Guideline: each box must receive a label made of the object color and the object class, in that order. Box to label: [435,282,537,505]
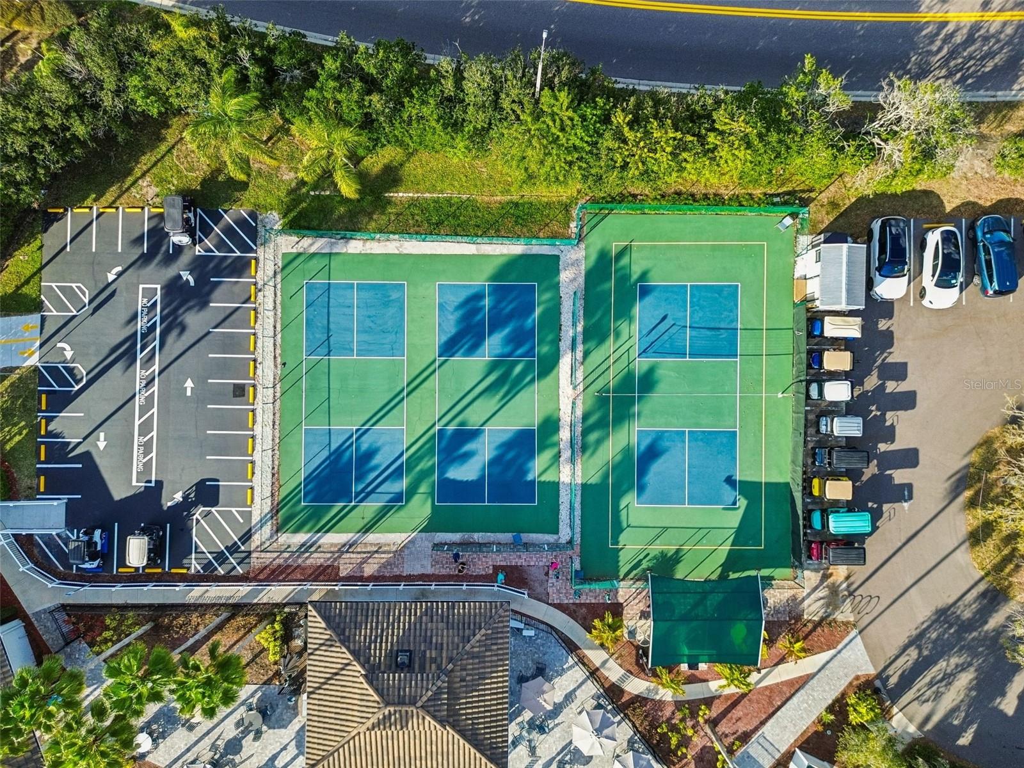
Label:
blue sports court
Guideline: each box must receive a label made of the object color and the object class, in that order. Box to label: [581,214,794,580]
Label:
green sports court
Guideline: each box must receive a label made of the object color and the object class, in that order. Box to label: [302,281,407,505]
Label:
blue sports court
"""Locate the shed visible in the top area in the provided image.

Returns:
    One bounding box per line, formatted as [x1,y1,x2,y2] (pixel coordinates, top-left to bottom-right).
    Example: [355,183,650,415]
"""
[804,241,866,310]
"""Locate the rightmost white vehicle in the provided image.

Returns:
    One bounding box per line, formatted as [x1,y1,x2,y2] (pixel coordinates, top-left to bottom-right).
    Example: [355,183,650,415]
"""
[919,227,966,309]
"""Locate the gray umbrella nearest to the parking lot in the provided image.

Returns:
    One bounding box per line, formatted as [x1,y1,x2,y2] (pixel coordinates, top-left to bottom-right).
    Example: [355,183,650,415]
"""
[280,647,306,675]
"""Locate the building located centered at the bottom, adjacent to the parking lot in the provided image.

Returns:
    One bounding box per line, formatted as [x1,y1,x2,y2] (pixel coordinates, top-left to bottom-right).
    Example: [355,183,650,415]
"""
[304,600,512,768]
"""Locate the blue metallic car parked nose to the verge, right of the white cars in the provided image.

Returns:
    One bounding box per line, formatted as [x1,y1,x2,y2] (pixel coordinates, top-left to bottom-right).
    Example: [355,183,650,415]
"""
[968,217,1017,298]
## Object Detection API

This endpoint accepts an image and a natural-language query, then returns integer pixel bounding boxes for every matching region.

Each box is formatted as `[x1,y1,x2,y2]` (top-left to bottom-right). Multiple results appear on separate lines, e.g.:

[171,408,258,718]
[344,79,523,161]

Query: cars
[919,227,966,309]
[968,217,1017,298]
[867,217,912,300]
